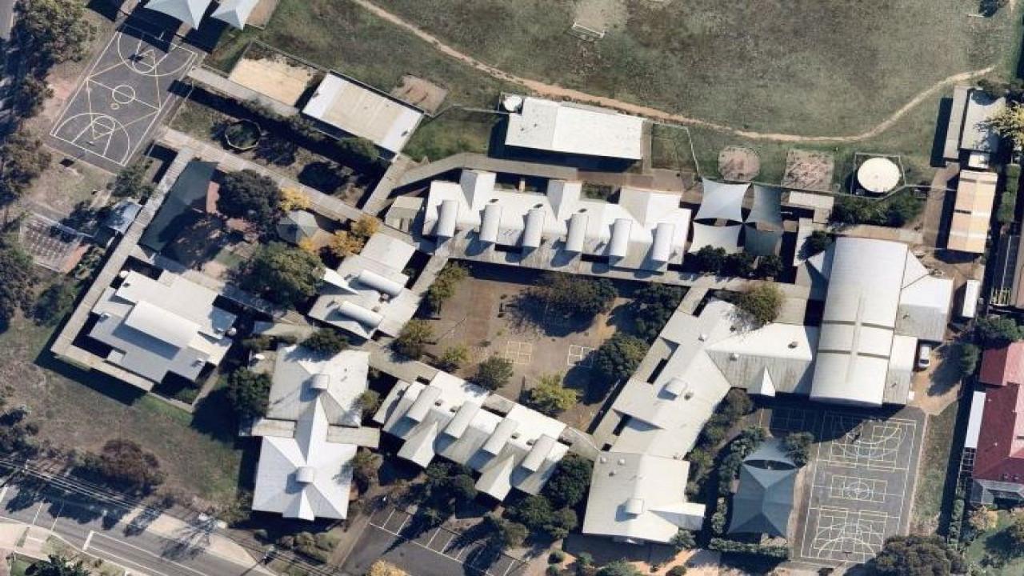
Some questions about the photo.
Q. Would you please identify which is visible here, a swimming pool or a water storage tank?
water storage tank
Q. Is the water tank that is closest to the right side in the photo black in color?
No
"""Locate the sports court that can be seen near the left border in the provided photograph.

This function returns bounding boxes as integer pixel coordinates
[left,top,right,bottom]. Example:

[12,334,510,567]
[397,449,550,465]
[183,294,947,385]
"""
[47,11,206,174]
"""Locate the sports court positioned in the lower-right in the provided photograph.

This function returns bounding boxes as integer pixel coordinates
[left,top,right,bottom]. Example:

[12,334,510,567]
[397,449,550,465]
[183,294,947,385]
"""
[748,396,927,565]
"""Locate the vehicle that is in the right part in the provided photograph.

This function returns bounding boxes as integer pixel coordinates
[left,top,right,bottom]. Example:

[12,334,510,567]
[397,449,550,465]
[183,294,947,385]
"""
[918,343,931,370]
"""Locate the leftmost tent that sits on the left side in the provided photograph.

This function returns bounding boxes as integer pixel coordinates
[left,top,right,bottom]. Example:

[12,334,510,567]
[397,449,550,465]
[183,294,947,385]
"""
[142,0,209,32]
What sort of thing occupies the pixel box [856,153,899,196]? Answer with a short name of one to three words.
water tank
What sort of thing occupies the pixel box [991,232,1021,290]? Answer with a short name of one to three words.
house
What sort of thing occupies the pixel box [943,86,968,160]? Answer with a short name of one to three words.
shed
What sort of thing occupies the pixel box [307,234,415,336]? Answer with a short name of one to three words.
building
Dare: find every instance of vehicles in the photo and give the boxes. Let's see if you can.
[918,343,931,370]
[199,511,227,532]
